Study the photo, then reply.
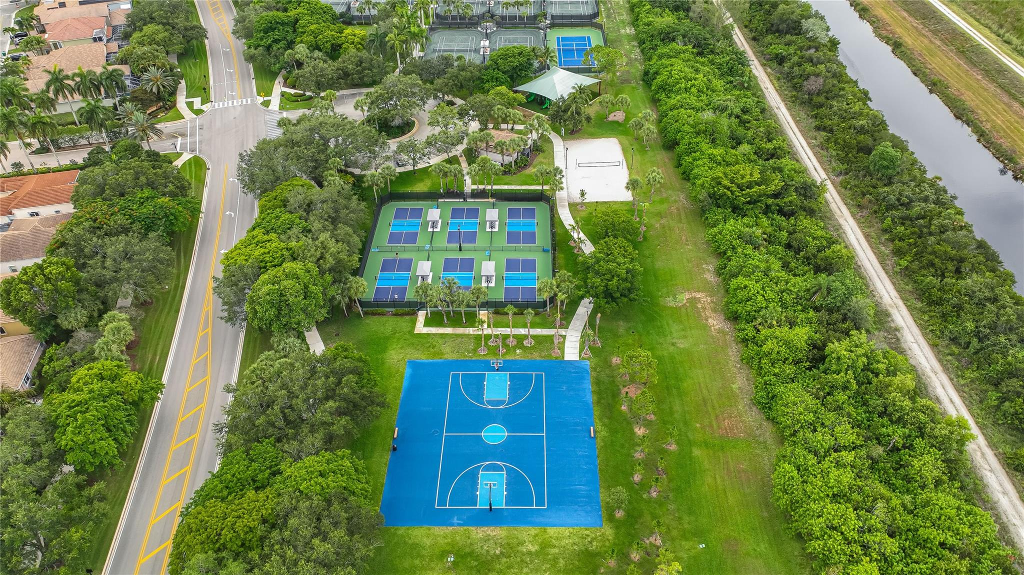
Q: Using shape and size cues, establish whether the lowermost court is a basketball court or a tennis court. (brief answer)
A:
basketball court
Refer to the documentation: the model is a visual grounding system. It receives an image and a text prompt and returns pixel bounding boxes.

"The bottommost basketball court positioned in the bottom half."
[381,360,603,527]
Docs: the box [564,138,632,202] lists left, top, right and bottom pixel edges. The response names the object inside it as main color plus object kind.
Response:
white sports court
